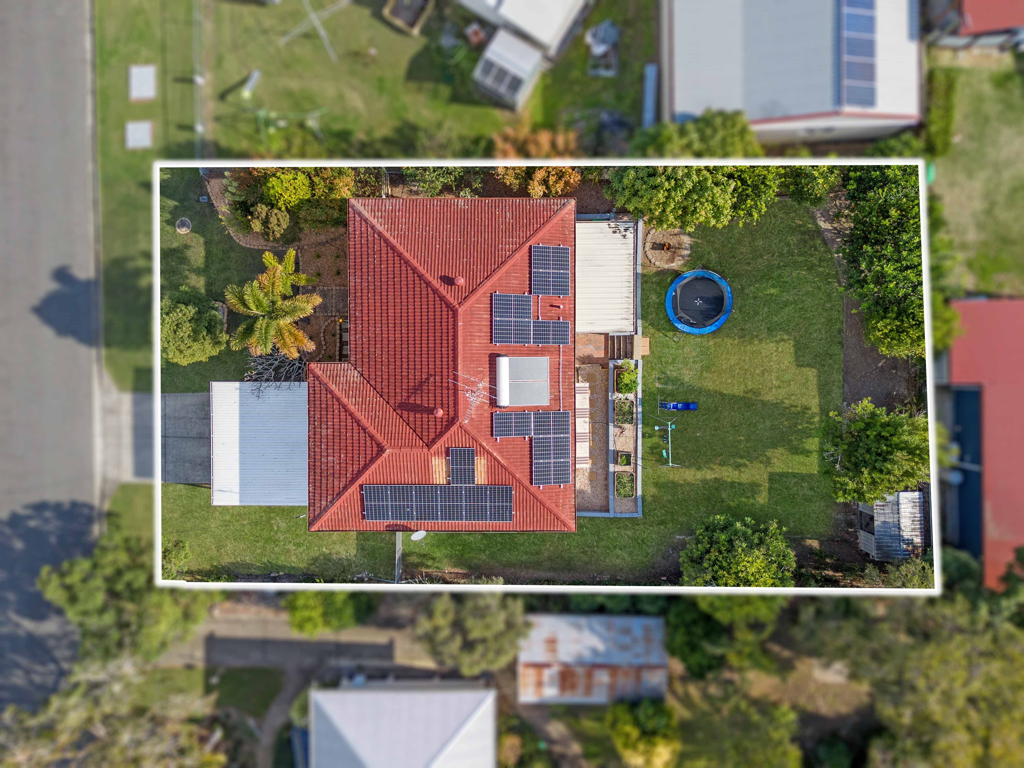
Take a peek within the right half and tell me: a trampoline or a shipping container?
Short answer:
trampoline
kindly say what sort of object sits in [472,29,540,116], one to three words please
shed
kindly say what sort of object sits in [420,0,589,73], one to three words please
house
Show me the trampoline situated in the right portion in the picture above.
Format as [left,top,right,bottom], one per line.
[661,264,738,344]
